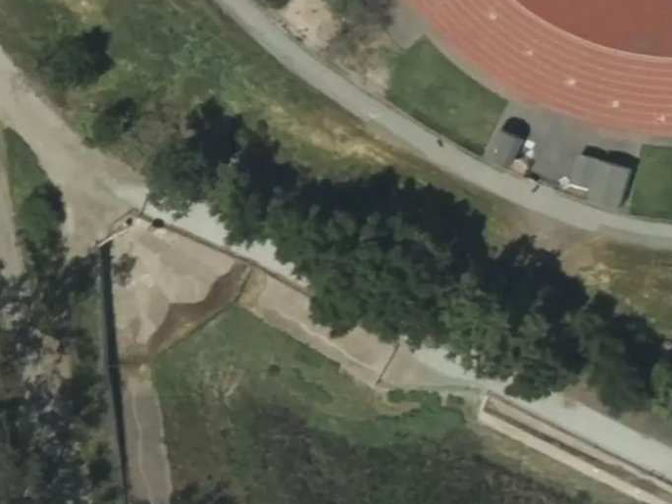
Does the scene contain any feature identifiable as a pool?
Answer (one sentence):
No, there isn't any pool down there.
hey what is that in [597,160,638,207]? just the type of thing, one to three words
shed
